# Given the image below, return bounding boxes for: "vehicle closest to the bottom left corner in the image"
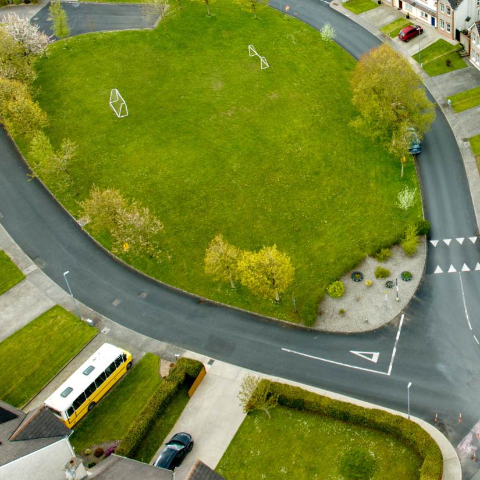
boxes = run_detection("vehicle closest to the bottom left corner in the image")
[38,347,134,427]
